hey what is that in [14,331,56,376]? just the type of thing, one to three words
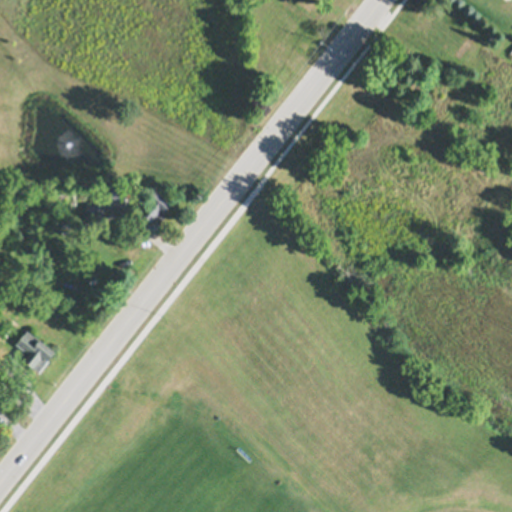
house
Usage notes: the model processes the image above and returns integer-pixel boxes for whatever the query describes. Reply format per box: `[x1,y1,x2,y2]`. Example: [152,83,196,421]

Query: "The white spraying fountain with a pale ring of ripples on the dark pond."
[58,135,80,157]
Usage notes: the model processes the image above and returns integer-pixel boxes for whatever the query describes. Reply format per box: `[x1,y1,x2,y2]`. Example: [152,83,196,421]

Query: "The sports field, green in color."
[64,411,308,512]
